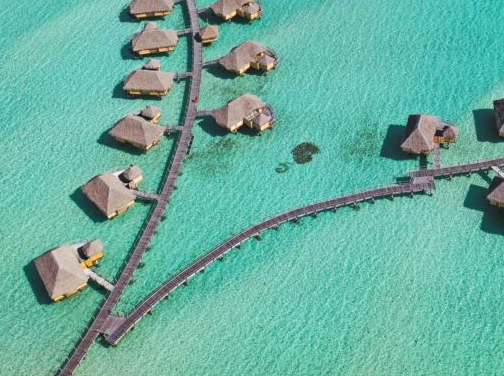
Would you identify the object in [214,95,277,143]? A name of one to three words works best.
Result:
house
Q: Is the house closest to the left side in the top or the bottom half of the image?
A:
bottom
